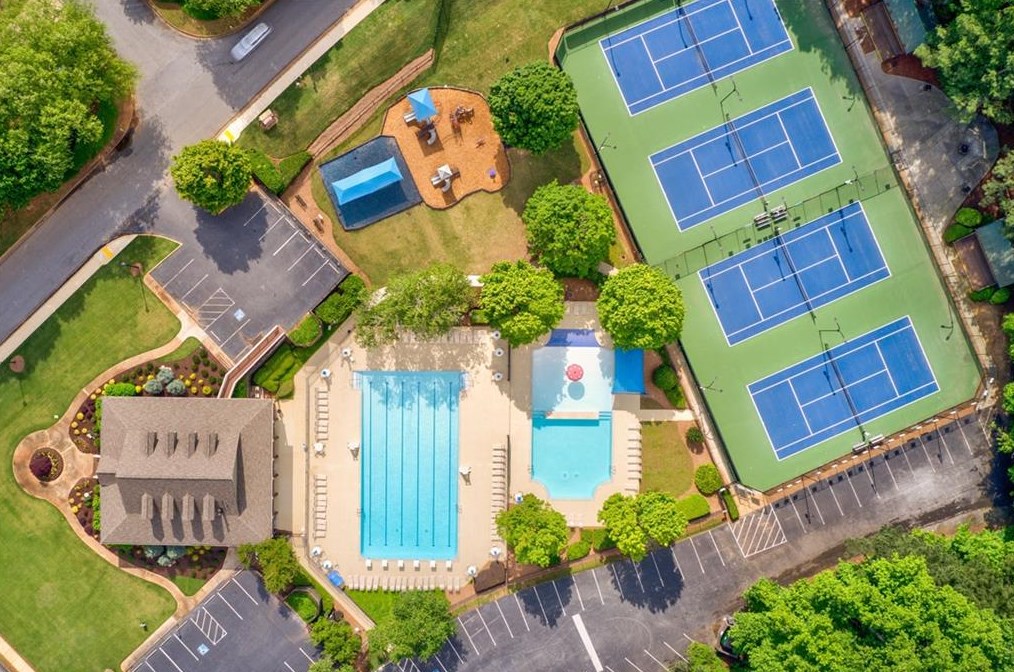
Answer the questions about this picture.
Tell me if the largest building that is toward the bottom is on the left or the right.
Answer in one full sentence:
You can find the largest building that is toward the bottom on the left side of the picture.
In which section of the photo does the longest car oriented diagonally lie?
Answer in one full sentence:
The longest car oriented diagonally sits in the top left section of the image.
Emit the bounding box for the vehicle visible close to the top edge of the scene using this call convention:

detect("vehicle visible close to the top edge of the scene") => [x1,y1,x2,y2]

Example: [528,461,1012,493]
[231,24,269,57]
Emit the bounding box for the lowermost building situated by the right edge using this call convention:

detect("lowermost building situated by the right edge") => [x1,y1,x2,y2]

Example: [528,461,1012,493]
[946,219,1014,292]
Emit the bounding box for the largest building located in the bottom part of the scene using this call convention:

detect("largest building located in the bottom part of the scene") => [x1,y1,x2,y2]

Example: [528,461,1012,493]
[90,397,281,544]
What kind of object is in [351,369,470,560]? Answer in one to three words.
swimming pool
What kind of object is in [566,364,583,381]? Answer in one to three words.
fountain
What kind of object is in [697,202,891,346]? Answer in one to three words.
tennis court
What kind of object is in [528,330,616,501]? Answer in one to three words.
swimming pool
